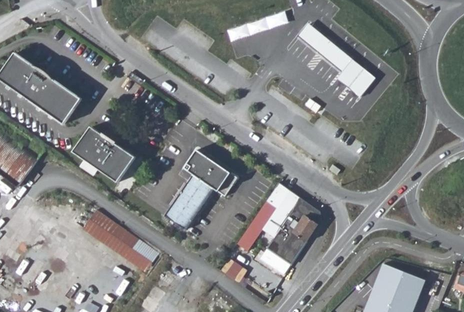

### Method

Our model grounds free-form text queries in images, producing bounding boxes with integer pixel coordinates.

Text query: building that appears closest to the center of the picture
[183,148,236,196]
